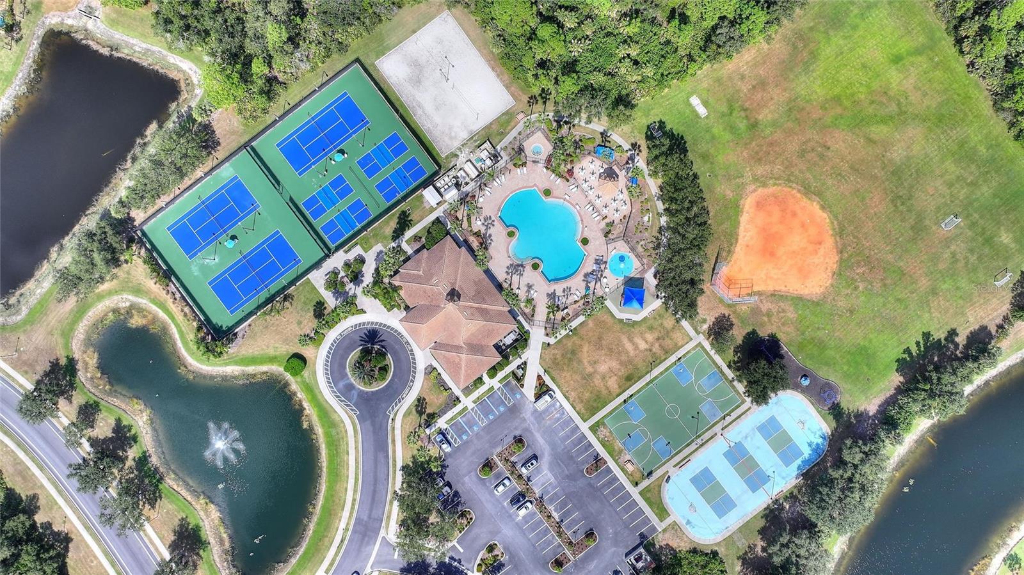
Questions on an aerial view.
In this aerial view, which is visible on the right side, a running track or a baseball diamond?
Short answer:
baseball diamond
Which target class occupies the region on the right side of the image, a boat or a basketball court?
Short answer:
basketball court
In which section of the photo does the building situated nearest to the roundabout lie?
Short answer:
center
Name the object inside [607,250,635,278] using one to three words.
swimming pool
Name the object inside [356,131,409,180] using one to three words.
sports court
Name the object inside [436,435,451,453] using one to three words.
car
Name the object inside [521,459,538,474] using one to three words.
car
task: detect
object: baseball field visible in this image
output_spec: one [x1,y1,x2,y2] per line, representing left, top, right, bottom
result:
[710,184,840,304]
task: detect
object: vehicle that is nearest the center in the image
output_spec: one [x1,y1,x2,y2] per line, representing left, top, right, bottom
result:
[535,392,555,410]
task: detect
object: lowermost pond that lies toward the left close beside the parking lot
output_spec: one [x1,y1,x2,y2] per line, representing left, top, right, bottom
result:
[101,326,312,575]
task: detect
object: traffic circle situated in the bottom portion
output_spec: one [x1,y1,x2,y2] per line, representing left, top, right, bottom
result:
[347,344,394,391]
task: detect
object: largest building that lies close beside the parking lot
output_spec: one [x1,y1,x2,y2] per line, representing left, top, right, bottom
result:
[390,235,518,390]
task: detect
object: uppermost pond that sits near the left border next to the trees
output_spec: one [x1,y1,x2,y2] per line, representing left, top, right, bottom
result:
[0,35,173,295]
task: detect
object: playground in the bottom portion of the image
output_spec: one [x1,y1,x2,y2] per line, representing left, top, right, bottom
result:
[742,336,841,411]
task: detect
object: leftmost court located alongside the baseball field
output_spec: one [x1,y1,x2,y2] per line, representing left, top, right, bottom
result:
[604,347,740,474]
